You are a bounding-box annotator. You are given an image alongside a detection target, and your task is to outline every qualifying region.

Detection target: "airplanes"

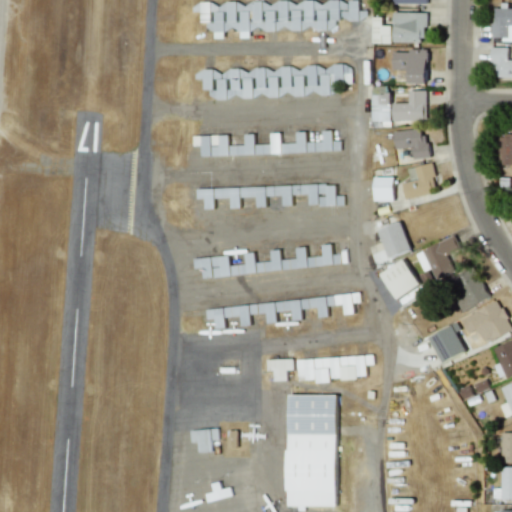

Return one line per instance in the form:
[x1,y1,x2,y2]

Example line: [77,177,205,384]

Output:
[198,321,222,340]
[224,248,248,266]
[370,144,386,164]
[242,424,266,442]
[262,494,282,512]
[180,492,204,510]
[276,314,299,330]
[312,34,336,55]
[222,320,246,338]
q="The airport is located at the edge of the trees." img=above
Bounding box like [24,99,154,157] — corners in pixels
[51,0,403,512]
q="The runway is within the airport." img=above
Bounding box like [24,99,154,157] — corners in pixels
[51,112,103,512]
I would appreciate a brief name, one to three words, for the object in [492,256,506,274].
vehicle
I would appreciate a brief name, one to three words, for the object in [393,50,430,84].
house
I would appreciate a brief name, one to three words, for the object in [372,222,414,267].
hangar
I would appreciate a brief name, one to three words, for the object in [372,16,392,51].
building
